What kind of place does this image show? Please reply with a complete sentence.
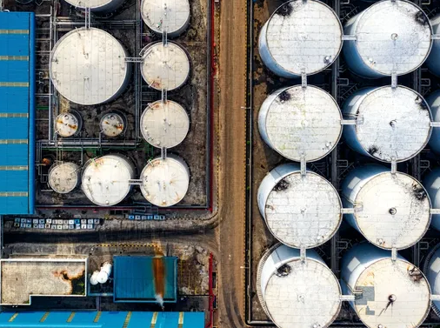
This image shows an industrial area.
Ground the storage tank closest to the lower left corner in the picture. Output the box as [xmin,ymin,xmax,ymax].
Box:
[48,160,82,194]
